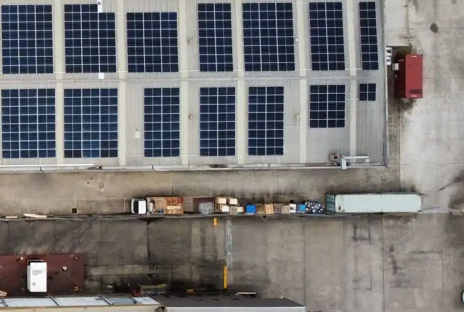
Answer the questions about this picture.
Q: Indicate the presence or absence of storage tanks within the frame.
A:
No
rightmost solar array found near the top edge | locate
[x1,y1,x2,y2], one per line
[359,0,380,70]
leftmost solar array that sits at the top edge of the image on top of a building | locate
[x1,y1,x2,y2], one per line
[1,3,54,74]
